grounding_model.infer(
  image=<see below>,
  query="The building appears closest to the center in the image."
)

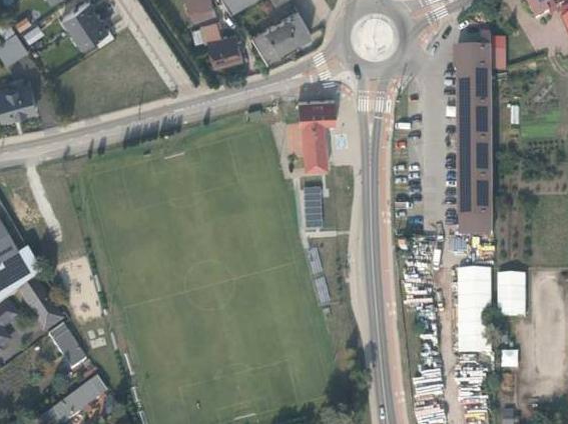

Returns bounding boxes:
[303,185,322,230]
